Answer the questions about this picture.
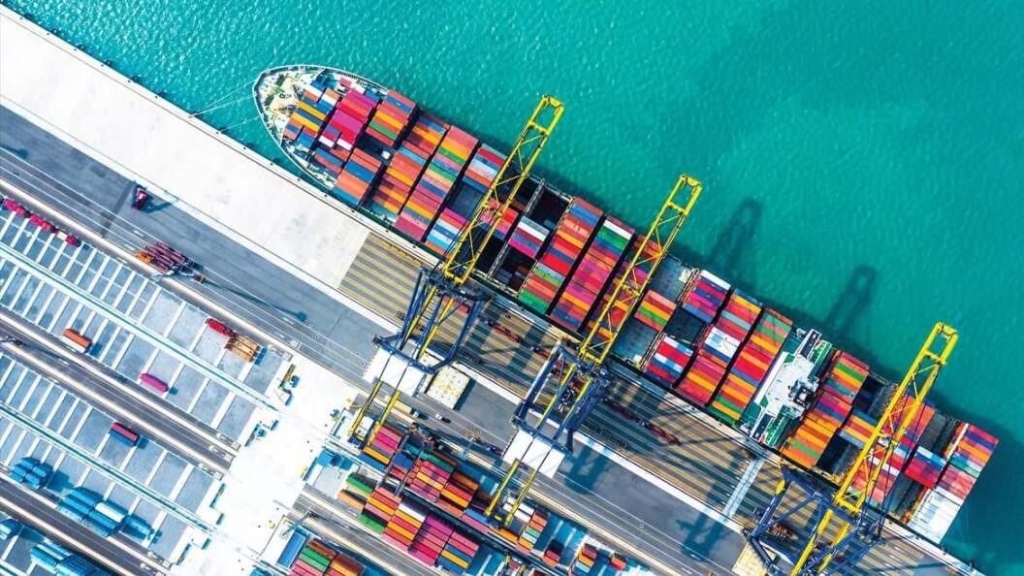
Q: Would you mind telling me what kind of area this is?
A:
port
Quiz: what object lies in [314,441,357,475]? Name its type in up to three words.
shed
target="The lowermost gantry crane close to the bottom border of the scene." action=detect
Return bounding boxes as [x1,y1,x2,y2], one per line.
[485,540,524,576]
